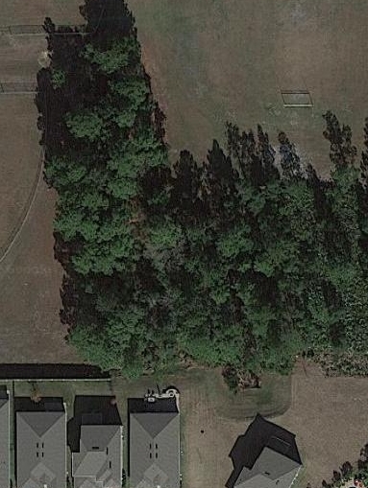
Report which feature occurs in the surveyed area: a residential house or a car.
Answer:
residential house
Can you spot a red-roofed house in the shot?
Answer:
No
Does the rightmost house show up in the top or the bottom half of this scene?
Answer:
bottom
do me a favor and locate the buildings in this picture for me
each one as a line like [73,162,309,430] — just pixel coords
[129,414,180,488]
[237,439,303,488]
[72,426,123,488]
[0,399,10,488]
[17,413,66,488]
